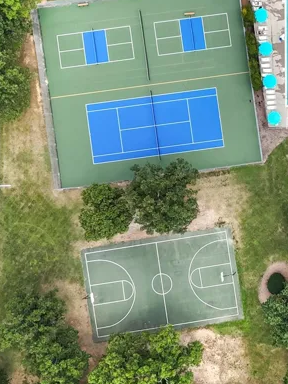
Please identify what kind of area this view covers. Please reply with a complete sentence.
The picture captures a sports ground.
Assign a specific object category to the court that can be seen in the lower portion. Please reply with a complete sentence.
It turns out the court that can be seen in the lower portion is a basketball court.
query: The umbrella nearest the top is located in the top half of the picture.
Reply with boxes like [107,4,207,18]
[254,8,268,23]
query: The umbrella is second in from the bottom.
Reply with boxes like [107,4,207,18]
[263,73,277,88]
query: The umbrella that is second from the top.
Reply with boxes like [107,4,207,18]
[259,42,273,56]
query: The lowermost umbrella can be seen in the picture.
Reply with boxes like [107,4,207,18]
[266,111,280,125]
